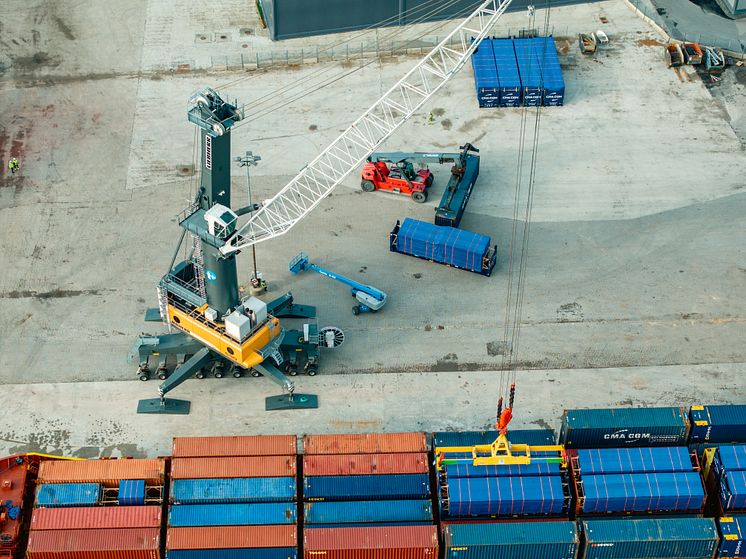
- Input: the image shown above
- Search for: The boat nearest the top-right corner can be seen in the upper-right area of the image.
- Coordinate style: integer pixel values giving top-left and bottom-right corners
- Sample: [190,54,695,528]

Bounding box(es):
[597,26,610,42]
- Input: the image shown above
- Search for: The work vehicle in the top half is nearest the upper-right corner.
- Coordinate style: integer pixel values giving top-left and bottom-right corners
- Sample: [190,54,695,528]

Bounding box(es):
[357,144,479,217]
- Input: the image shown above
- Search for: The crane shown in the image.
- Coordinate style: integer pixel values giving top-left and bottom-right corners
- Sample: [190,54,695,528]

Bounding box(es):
[122,0,545,413]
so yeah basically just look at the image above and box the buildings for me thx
[715,0,746,20]
[261,0,602,40]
